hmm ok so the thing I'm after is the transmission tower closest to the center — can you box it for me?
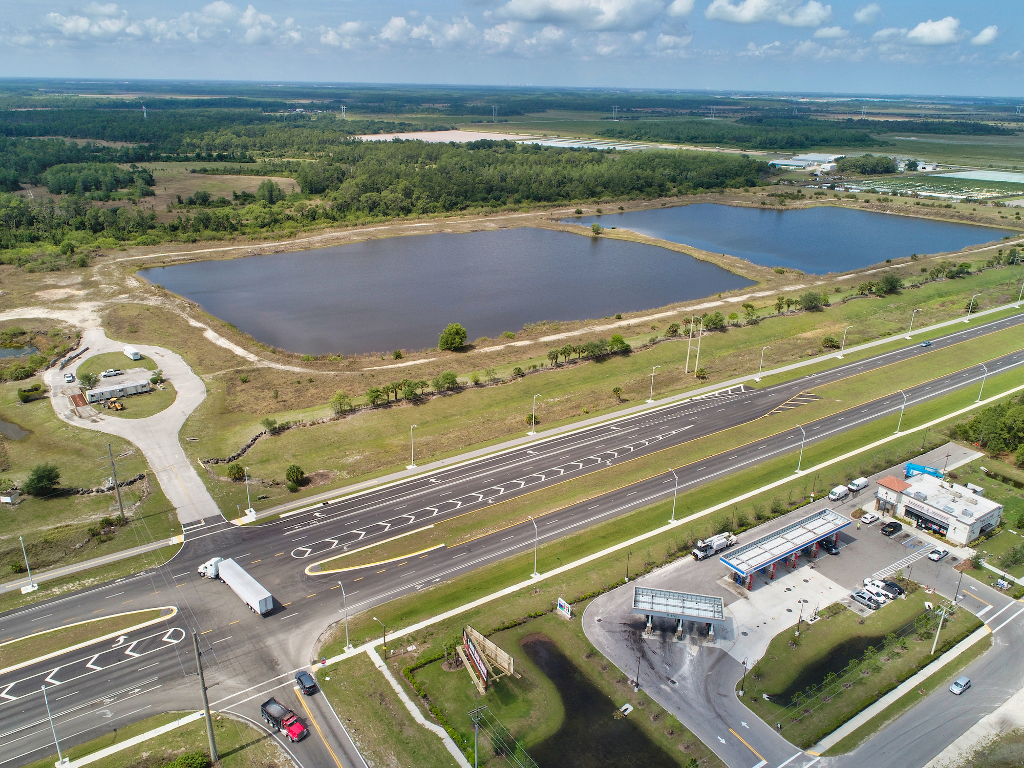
[685,316,705,377]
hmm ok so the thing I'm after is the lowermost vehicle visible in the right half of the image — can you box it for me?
[949,674,975,694]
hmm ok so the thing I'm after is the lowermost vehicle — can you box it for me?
[256,696,311,743]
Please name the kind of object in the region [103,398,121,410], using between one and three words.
vehicle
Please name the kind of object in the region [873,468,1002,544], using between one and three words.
building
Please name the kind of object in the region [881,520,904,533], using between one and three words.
vehicle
